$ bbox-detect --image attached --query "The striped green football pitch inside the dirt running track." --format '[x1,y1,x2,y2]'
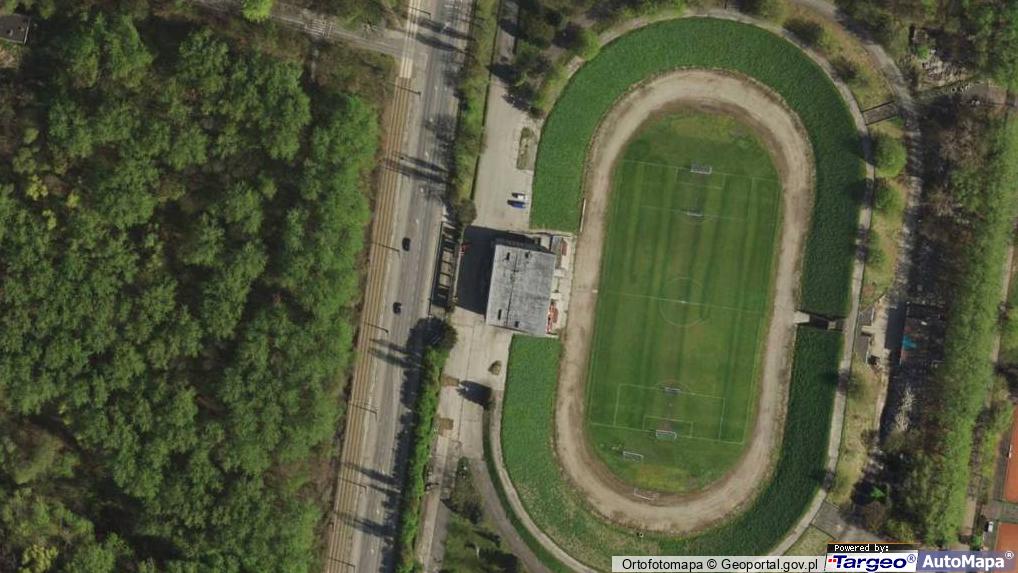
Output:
[581,101,785,504]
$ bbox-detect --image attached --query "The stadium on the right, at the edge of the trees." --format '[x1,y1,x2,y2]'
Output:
[500,16,866,573]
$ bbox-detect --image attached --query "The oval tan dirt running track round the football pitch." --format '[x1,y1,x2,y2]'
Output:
[552,68,814,536]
